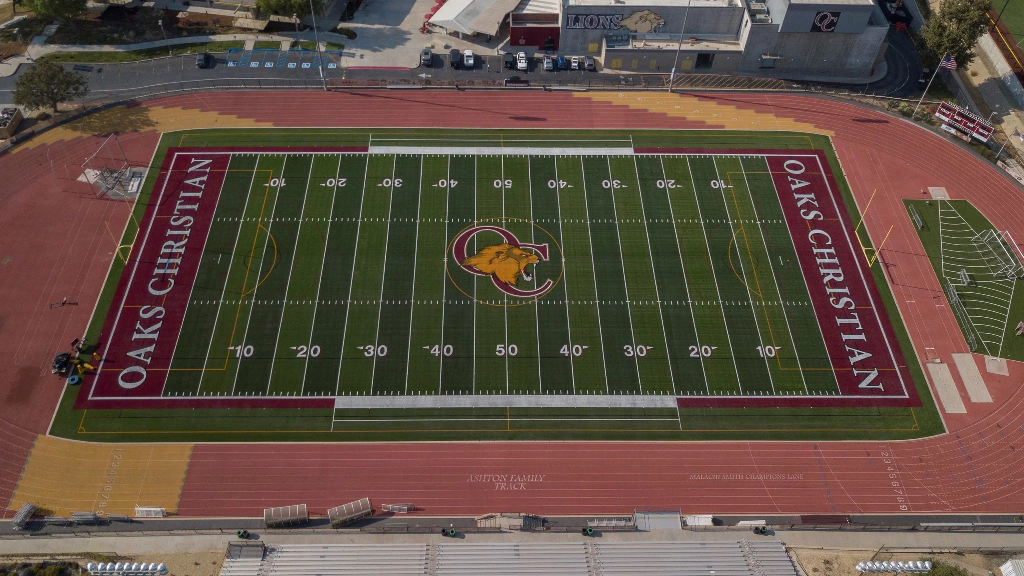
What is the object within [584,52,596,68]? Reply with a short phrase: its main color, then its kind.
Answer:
gray vehicle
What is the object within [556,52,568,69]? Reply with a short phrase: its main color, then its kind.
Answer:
blue vehicle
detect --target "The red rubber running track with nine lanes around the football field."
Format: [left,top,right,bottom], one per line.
[0,89,1024,520]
